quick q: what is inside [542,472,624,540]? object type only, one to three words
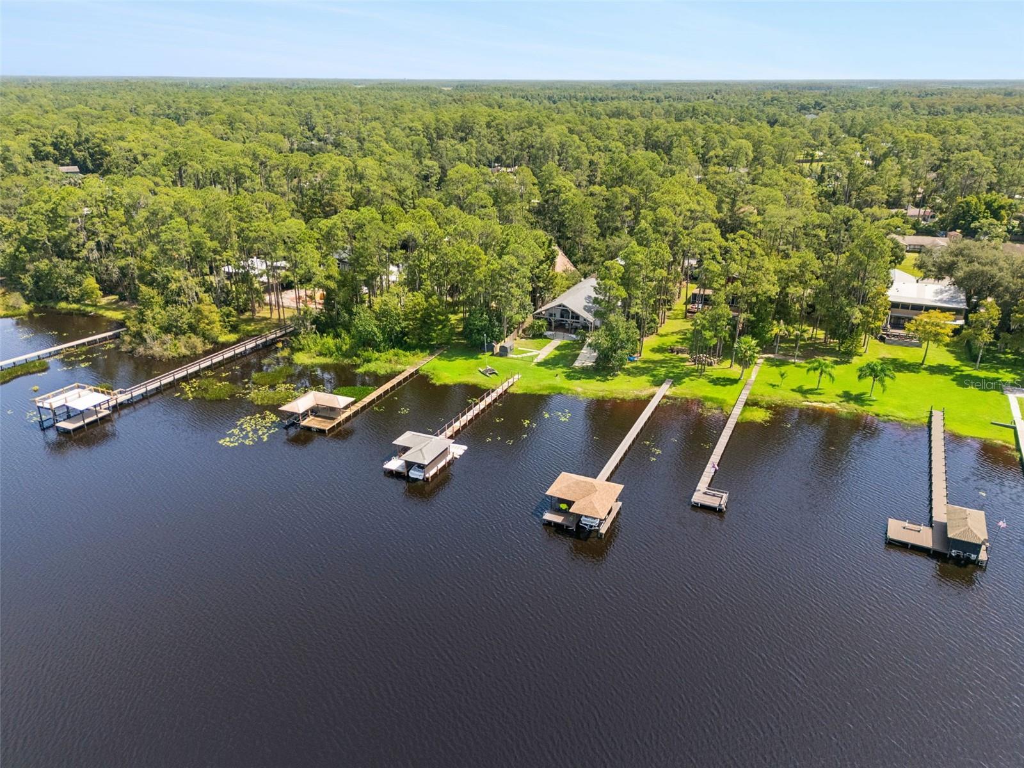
building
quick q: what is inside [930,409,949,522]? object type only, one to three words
pier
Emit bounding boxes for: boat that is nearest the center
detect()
[477,338,502,374]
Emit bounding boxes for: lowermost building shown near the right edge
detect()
[886,504,989,567]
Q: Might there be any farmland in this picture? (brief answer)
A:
No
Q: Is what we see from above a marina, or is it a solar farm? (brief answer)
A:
marina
